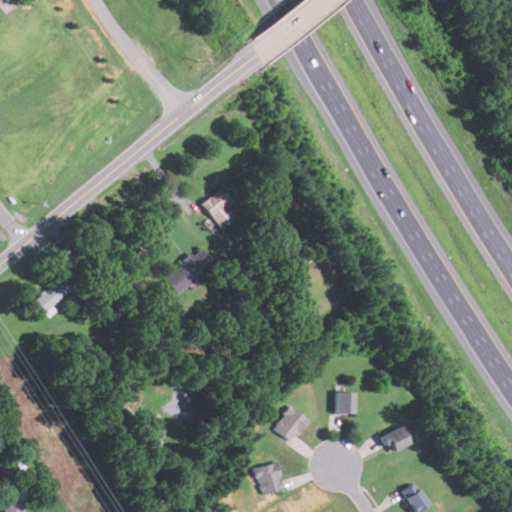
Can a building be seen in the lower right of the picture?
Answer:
Yes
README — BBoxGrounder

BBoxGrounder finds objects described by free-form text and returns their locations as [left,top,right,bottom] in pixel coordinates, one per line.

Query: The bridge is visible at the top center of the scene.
[249,0,356,68]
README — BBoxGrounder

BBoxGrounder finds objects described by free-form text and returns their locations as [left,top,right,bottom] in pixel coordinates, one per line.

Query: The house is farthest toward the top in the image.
[200,192,232,226]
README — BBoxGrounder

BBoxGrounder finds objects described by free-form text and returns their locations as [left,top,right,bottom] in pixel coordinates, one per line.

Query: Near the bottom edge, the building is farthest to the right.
[402,480,436,512]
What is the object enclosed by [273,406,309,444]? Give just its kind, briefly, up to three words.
house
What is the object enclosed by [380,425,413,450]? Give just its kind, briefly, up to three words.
house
